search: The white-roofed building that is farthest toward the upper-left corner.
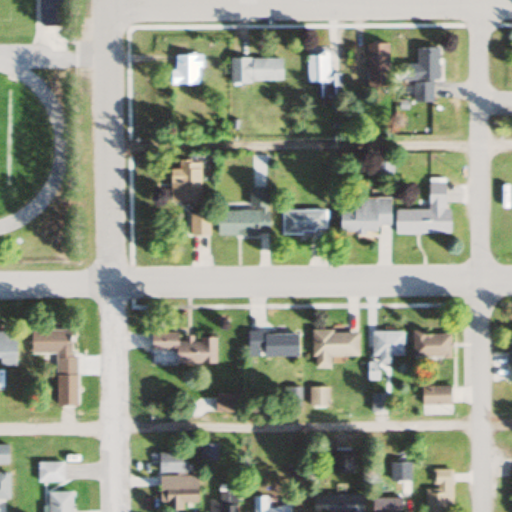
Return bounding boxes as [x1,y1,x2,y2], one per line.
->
[172,51,206,86]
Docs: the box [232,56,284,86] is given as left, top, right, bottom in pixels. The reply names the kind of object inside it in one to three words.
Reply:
house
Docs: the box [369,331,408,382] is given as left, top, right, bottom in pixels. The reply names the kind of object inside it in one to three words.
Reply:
house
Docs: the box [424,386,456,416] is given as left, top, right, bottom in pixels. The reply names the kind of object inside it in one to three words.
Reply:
building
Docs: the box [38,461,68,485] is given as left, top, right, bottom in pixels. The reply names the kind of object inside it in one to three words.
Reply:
building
